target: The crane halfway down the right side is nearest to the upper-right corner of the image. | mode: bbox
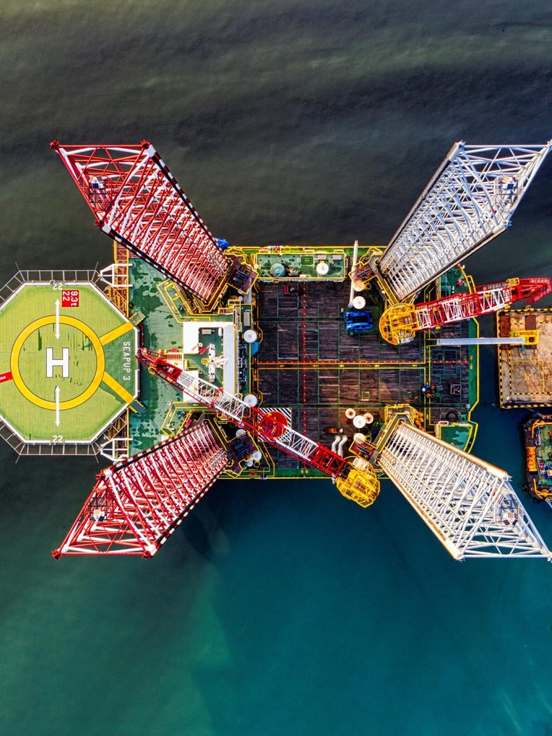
[377,273,547,344]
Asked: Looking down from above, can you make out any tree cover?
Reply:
No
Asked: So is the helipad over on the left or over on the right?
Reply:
left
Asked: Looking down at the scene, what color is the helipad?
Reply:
yellow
